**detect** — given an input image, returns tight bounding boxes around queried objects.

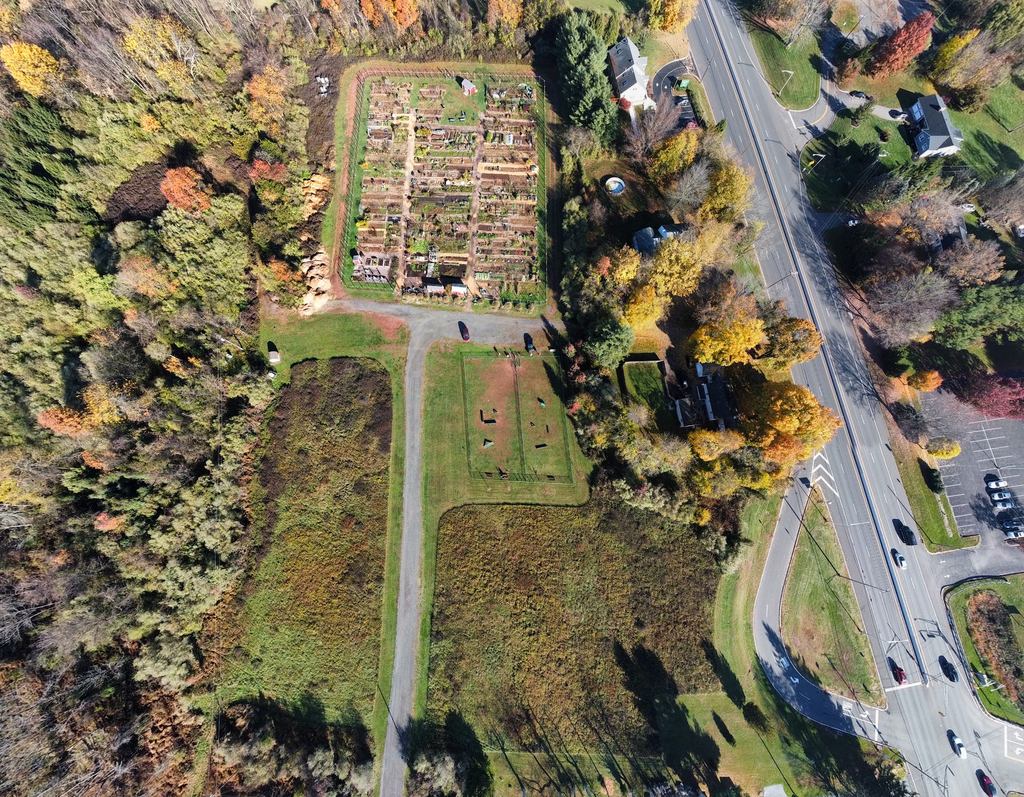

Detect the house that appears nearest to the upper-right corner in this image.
[905,90,965,161]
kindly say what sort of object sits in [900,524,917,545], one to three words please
vehicle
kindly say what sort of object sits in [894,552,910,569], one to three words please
car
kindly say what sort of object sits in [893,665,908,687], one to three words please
car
